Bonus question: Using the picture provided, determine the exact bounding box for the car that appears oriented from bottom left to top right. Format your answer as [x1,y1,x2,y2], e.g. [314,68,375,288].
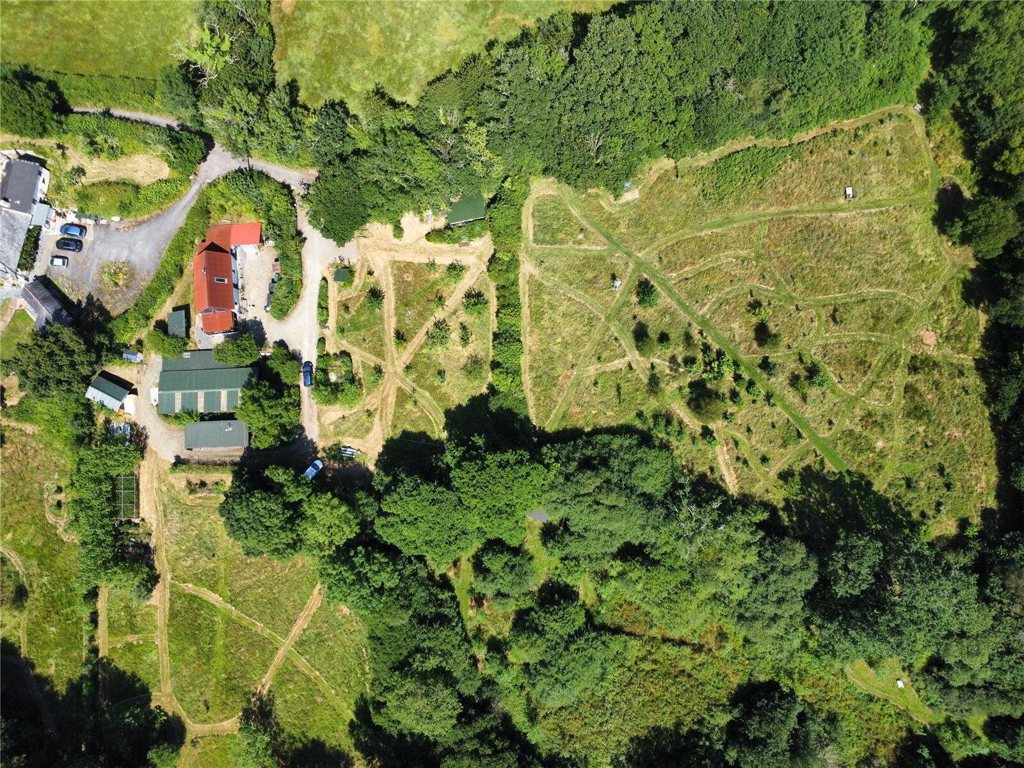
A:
[301,458,324,482]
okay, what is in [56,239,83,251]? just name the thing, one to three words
vehicle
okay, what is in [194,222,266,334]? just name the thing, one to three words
house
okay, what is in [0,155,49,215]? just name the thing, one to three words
house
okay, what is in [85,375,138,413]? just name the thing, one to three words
shed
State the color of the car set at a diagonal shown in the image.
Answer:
blue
